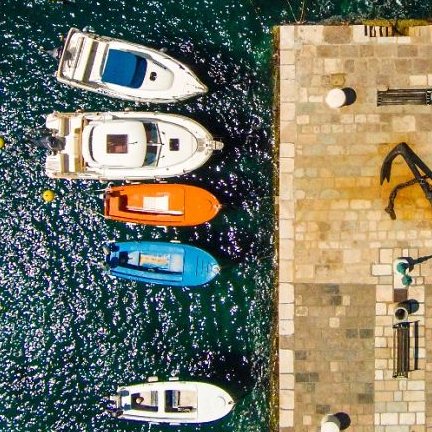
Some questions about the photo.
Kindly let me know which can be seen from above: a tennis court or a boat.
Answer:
boat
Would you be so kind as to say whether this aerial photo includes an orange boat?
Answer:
Yes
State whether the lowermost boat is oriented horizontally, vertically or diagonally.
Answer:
horizontally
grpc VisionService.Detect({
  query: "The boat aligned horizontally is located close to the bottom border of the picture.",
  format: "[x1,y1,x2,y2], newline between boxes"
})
[96,376,278,424]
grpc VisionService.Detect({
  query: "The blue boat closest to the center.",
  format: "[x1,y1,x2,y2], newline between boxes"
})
[93,239,275,287]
